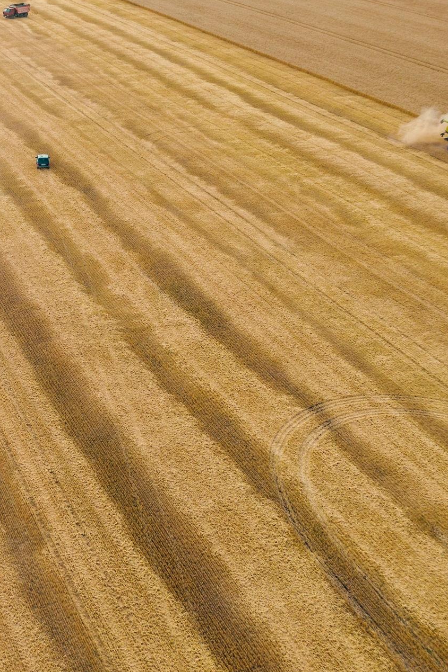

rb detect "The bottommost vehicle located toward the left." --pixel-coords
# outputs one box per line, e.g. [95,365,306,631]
[36,152,52,166]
